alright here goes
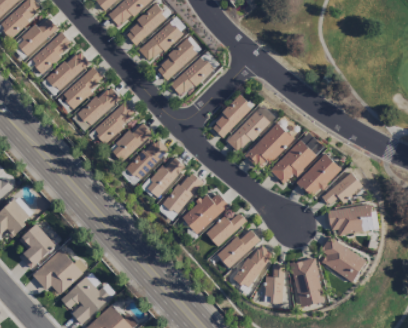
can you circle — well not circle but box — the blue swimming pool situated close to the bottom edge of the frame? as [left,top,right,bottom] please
[126,302,145,322]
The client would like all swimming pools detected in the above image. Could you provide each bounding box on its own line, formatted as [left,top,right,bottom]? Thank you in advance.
[126,302,145,322]
[21,186,36,207]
